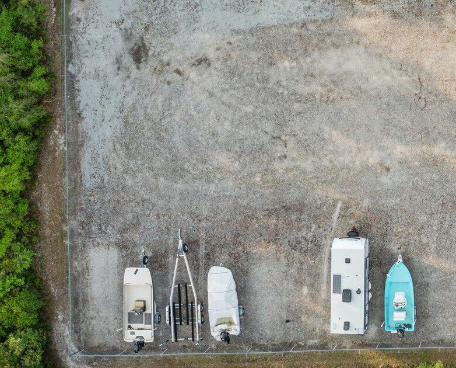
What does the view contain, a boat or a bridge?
boat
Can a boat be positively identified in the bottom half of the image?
Yes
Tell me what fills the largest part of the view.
paved ground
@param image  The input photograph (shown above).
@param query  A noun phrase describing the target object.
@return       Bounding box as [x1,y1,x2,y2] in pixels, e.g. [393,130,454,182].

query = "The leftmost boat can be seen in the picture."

[124,268,154,353]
